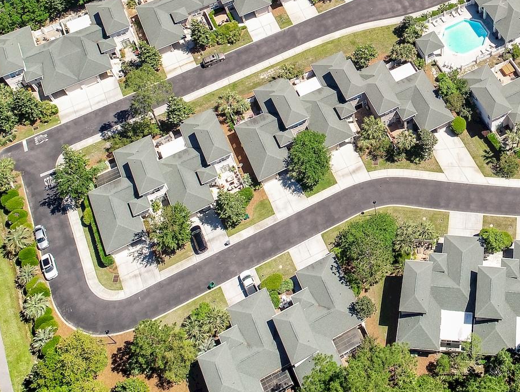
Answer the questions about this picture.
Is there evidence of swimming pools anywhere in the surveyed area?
Yes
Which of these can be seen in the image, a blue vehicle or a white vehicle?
white vehicle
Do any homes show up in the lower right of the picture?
Yes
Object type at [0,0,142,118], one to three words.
house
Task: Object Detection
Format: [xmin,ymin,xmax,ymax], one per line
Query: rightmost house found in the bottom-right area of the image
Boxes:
[398,226,520,358]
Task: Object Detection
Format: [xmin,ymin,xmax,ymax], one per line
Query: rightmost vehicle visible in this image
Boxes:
[240,265,259,297]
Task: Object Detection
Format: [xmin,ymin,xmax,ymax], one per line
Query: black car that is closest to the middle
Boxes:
[189,224,207,255]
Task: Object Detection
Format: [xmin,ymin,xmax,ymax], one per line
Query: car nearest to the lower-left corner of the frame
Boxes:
[38,251,58,282]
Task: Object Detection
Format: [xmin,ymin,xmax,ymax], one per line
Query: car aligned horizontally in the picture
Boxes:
[200,51,226,66]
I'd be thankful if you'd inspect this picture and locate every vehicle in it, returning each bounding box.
[189,224,207,255]
[200,51,226,66]
[240,265,259,297]
[33,223,50,251]
[38,251,58,282]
